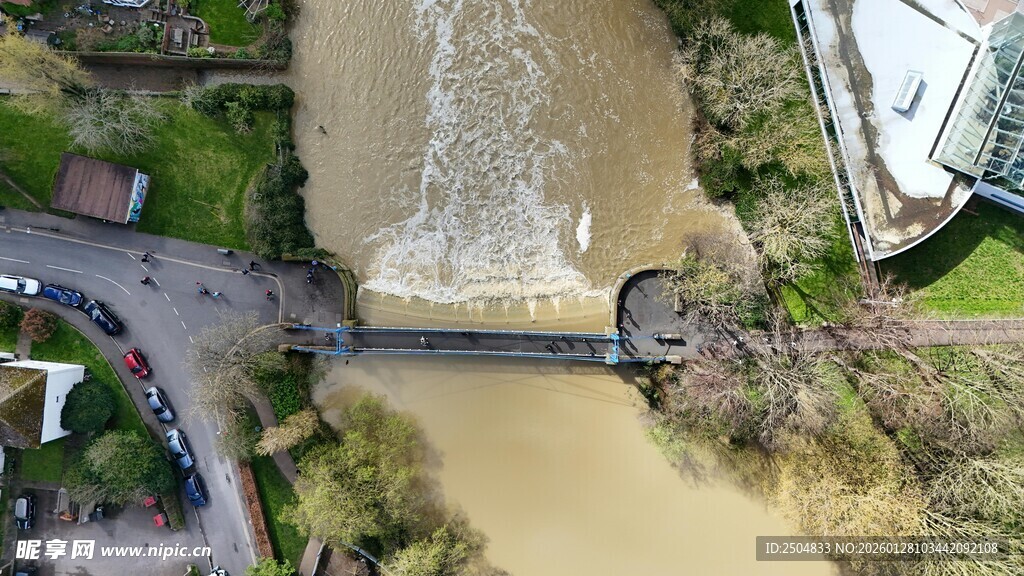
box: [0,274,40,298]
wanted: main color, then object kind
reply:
white car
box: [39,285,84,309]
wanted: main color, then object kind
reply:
blue car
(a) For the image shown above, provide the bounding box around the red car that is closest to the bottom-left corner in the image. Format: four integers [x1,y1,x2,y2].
[120,344,152,383]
